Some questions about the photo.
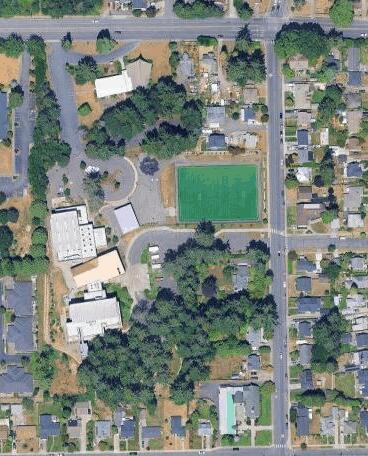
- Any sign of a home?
Yes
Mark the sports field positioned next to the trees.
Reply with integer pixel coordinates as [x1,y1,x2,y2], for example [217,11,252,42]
[177,163,261,224]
